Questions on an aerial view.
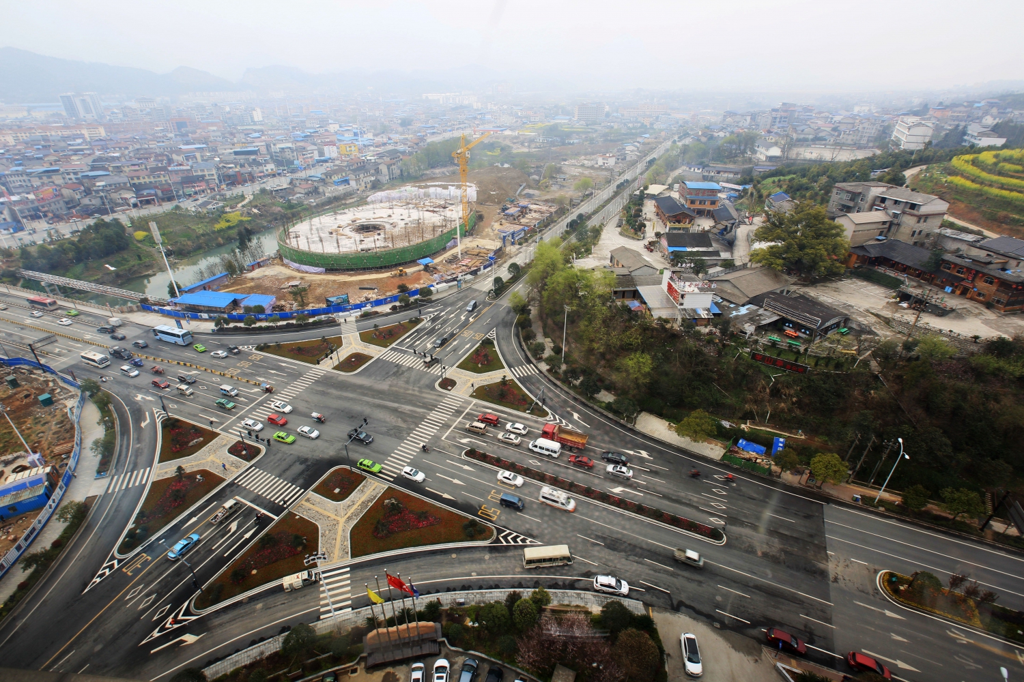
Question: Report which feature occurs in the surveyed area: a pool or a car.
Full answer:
This aerial view contains a car.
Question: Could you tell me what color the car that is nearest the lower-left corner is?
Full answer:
From above, the car that is nearest the lower-left corner appears blue.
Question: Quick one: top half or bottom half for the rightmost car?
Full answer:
The rightmost car is in the bottom half of the image.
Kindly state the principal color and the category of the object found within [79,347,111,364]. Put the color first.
white vehicle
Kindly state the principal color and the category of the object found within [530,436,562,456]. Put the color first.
white vehicle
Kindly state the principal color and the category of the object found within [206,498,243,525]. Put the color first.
gray truck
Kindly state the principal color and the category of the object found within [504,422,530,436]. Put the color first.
white car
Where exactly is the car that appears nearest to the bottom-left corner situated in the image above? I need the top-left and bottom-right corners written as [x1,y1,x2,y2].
[164,534,202,563]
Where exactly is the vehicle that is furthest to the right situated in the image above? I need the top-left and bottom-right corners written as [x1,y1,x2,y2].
[845,651,893,682]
